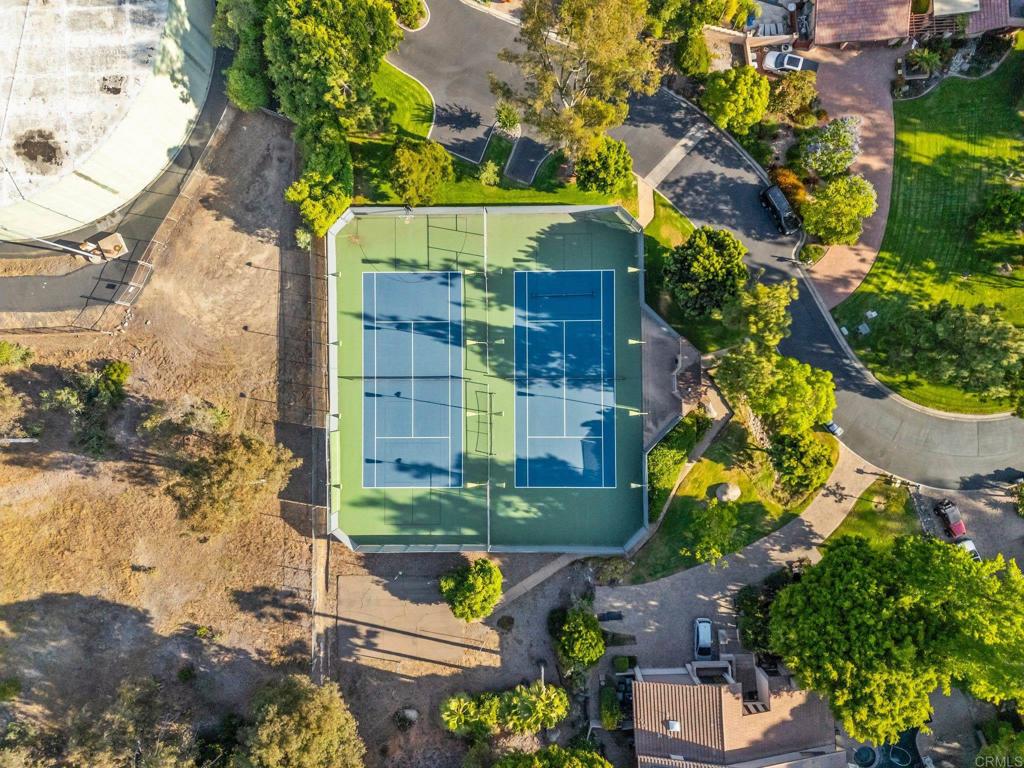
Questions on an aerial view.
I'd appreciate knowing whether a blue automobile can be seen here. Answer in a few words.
Yes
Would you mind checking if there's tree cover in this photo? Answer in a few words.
Yes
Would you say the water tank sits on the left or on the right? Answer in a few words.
left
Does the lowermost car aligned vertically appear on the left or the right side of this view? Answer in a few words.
right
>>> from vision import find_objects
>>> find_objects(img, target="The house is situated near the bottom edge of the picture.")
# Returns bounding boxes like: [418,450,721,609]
[632,653,846,768]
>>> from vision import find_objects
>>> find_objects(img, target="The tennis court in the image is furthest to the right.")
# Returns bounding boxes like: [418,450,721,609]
[487,213,644,547]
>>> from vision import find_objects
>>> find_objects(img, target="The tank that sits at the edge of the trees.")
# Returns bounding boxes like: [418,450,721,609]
[0,0,212,241]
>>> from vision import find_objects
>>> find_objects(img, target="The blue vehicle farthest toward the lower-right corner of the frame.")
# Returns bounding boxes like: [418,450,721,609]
[693,616,715,660]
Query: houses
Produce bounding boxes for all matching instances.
[809,0,1024,54]
[632,653,846,768]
